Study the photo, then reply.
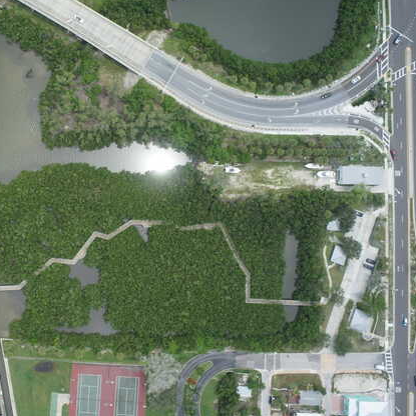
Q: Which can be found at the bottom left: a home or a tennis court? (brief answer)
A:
tennis court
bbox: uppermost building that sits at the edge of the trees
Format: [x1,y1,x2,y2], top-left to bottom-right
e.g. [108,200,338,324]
[332,165,384,186]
